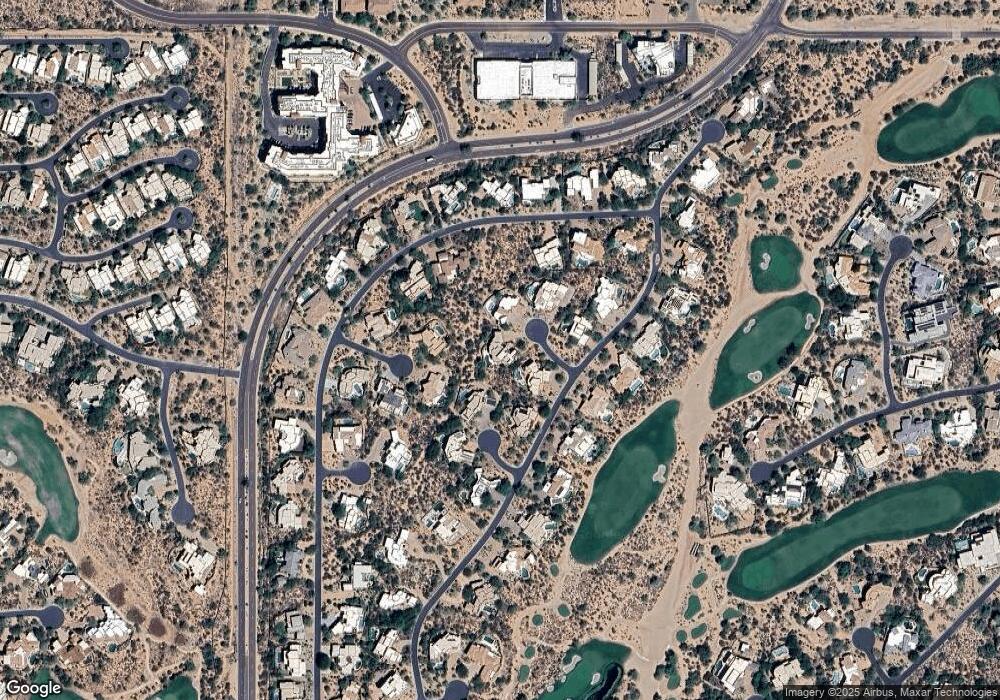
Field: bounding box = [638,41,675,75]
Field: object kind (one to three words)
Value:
building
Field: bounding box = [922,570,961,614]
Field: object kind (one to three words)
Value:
house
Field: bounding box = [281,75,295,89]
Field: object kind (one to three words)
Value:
swimming pool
